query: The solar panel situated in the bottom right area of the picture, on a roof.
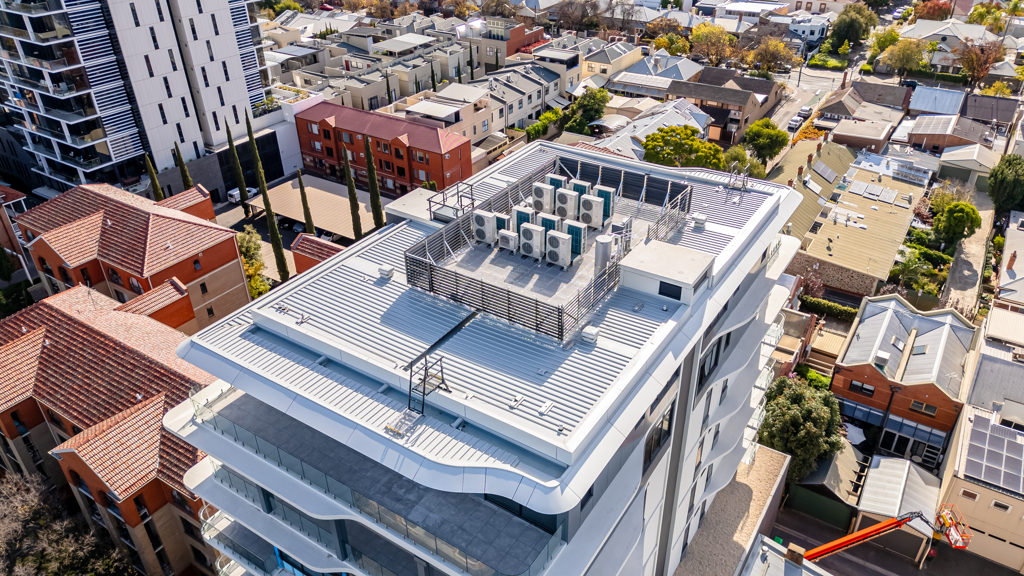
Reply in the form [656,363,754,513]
[965,415,1024,498]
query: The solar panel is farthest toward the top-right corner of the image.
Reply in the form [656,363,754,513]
[910,116,955,137]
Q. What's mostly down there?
buildings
